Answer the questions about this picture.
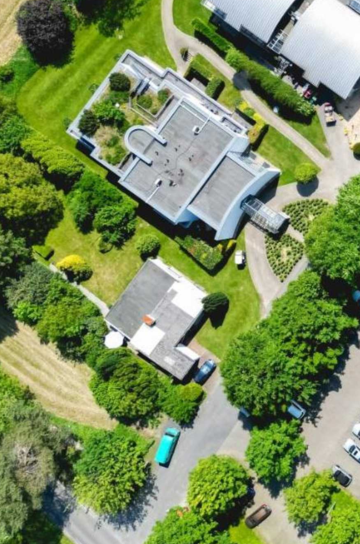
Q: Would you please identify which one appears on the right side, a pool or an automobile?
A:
automobile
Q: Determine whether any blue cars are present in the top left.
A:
No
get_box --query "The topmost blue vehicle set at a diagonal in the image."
[194,359,217,383]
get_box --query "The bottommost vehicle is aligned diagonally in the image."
[247,503,272,525]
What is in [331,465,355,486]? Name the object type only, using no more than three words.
car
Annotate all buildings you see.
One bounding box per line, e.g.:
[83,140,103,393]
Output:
[200,0,360,98]
[66,49,282,240]
[105,259,209,380]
